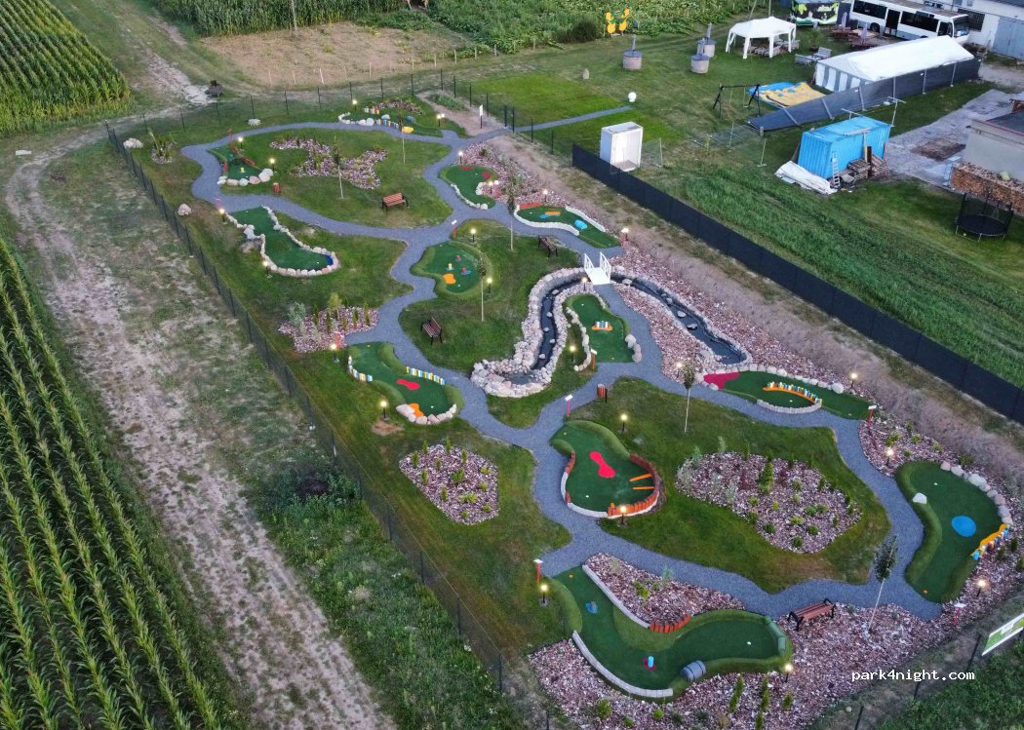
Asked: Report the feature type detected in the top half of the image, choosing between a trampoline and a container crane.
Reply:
trampoline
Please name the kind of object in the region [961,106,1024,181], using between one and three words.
shed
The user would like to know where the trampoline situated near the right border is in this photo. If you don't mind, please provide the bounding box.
[950,190,1021,247]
